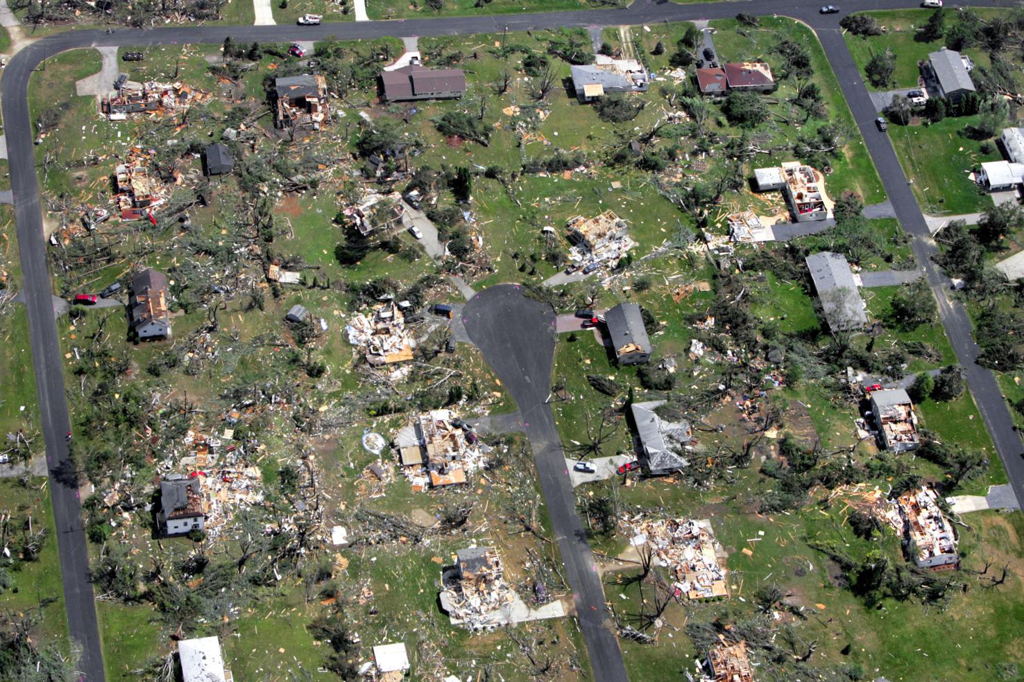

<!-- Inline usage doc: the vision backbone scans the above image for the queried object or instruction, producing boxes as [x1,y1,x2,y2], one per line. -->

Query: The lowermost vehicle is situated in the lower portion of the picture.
[534,579,546,599]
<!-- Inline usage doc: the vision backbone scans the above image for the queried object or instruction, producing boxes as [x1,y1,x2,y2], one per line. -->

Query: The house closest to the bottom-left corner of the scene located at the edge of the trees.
[178,636,235,682]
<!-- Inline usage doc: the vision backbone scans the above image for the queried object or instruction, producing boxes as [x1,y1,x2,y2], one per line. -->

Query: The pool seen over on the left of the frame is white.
[362,432,385,453]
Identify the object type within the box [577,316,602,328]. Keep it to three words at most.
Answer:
vehicle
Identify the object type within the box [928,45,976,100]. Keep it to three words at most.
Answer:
house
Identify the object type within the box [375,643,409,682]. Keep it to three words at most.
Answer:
shed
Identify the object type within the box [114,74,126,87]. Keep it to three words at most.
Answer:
vehicle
